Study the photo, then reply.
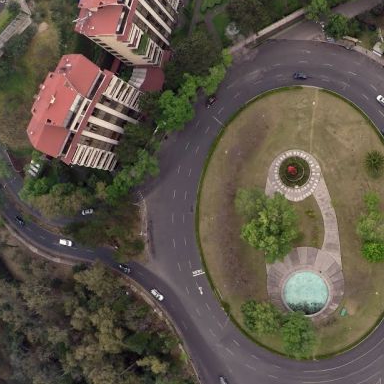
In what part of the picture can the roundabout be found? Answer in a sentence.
Look in the right portion of the view to spot the roundabout.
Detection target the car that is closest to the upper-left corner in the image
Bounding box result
[26,160,41,174]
